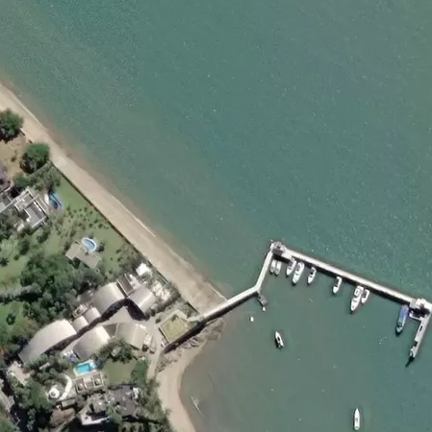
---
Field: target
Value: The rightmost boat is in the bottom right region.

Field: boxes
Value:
[397,305,409,333]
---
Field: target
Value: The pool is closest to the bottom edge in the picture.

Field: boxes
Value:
[73,360,96,377]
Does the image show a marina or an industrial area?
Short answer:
marina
